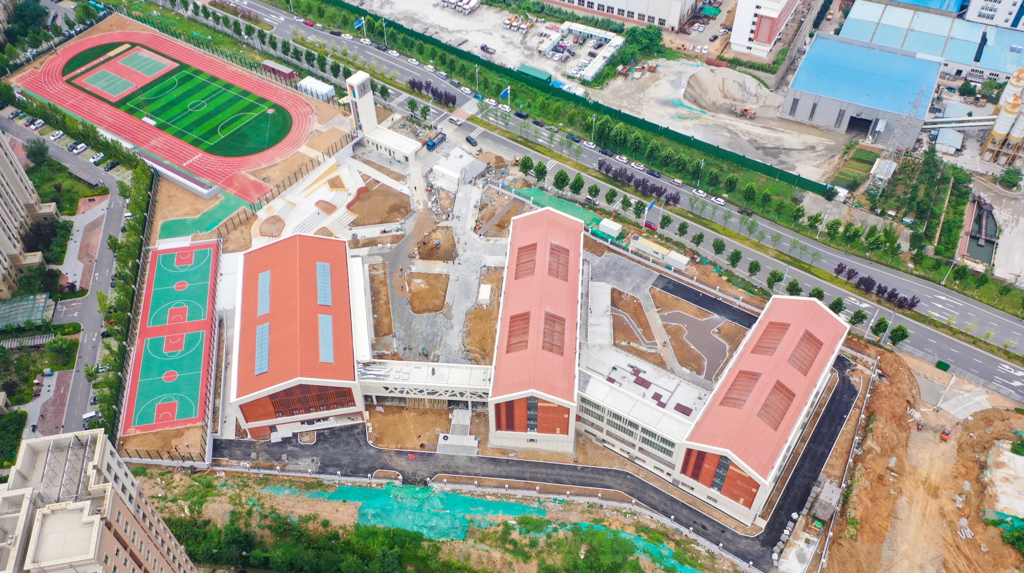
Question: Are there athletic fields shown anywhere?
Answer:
Yes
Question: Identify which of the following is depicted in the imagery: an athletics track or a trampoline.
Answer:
athletics track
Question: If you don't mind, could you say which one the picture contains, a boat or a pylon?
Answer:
pylon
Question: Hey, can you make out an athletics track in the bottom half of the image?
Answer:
No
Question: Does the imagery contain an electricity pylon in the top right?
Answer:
Yes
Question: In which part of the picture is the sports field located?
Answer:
top left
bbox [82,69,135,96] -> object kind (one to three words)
sports court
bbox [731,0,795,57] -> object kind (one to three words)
building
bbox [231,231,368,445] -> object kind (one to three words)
building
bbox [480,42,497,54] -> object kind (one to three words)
vehicle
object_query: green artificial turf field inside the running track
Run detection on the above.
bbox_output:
[62,41,292,156]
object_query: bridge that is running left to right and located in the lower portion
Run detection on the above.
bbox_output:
[360,358,491,412]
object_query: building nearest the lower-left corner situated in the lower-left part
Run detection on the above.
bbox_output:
[0,429,185,573]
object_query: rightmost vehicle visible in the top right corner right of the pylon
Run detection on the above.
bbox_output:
[960,92,989,107]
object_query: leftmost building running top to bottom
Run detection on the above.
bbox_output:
[0,133,56,302]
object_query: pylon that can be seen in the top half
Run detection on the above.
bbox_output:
[853,83,931,206]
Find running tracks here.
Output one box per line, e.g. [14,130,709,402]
[10,31,316,203]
